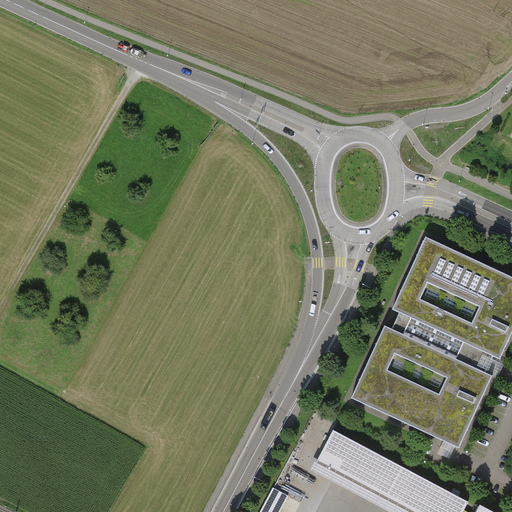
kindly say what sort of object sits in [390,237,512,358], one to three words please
building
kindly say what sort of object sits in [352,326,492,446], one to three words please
building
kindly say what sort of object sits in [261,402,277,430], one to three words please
vehicle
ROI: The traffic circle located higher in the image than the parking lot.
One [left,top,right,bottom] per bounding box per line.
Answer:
[314,126,406,245]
